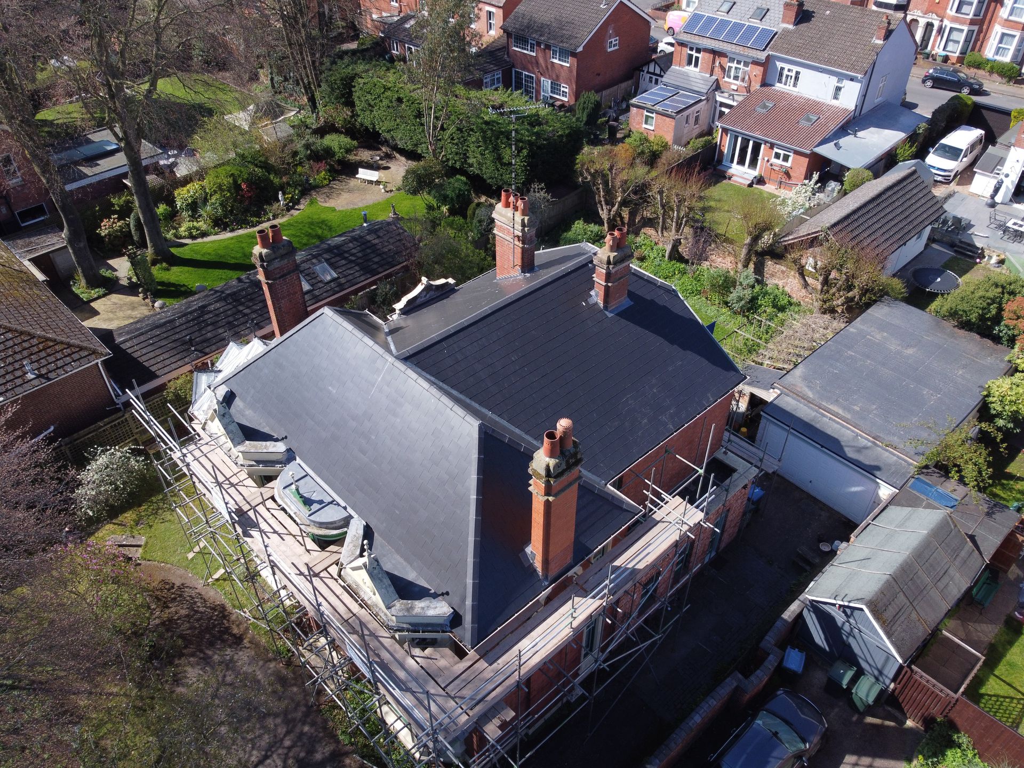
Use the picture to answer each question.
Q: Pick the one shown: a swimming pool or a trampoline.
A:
trampoline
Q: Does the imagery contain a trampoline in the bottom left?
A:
No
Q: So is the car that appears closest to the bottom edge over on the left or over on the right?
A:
right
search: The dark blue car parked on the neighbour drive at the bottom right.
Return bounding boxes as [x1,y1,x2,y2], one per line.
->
[711,685,840,768]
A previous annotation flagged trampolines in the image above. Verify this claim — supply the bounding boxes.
[908,264,967,301]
